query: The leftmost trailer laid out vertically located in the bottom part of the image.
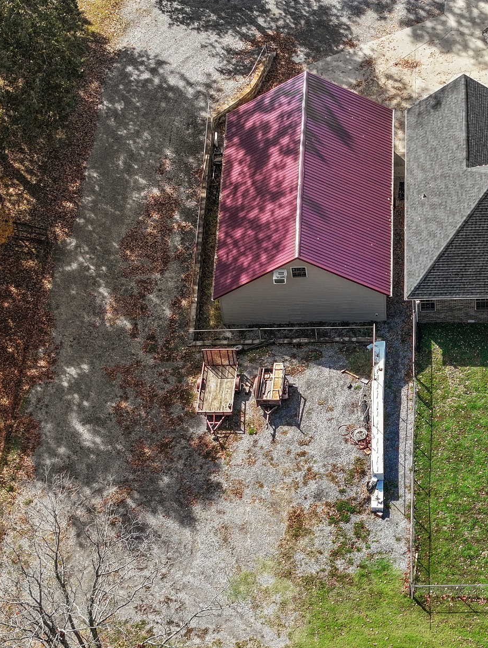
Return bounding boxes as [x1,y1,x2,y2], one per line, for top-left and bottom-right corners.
[195,346,243,443]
